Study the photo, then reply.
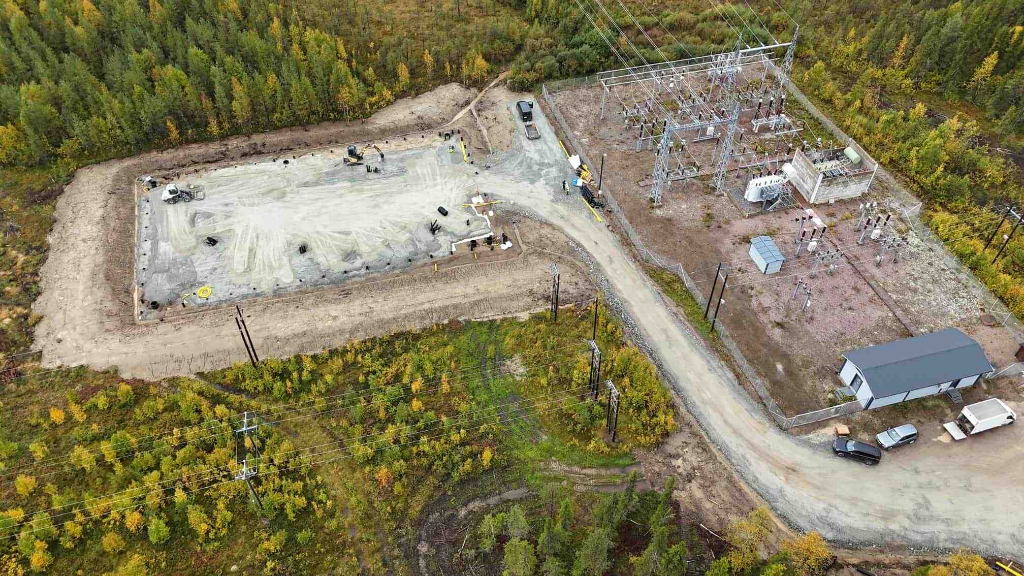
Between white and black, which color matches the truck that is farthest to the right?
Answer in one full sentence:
The color of the truck that is farthest to the right is white.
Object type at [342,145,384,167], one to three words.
work vehicle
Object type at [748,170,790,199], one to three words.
storage tank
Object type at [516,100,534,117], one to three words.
car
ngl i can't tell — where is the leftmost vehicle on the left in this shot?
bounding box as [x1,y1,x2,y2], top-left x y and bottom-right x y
[160,183,207,205]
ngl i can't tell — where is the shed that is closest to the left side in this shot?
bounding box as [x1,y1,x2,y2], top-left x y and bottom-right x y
[747,236,787,274]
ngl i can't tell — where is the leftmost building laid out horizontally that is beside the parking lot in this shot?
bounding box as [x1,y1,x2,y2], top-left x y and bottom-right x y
[834,331,993,415]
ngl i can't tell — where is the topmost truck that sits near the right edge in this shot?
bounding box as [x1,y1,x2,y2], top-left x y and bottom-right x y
[947,392,1024,434]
